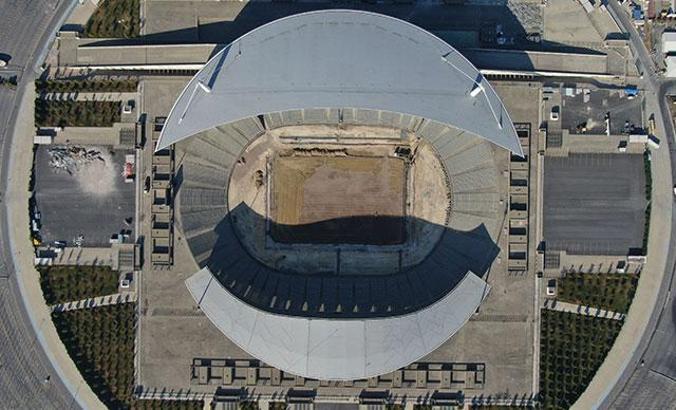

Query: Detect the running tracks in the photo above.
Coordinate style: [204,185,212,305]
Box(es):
[229,127,450,276]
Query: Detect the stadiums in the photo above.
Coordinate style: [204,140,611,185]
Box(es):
[154,9,524,381]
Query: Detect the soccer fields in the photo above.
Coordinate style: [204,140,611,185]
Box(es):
[267,152,411,252]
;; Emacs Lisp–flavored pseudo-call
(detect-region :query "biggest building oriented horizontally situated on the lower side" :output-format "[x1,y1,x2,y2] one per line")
[191,359,489,387]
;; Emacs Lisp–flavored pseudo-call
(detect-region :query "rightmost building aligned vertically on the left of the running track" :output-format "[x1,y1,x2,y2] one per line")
[151,116,170,266]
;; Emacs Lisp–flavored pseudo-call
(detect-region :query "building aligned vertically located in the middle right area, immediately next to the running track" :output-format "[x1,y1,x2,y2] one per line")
[508,121,530,272]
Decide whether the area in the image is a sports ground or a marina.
sports ground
